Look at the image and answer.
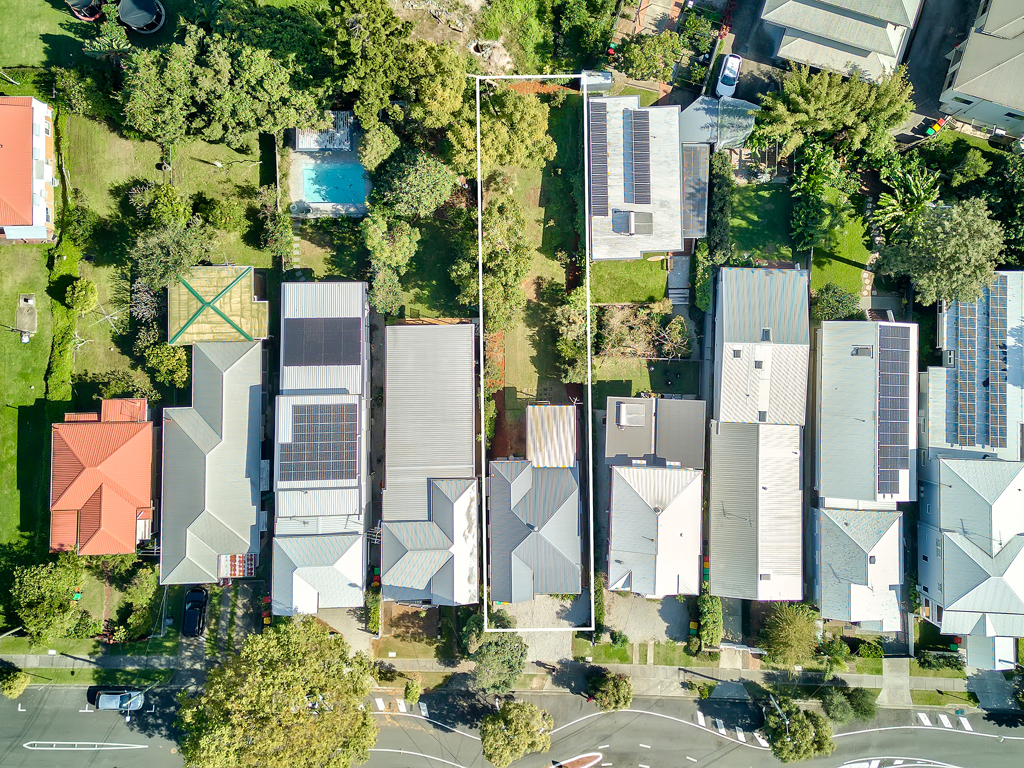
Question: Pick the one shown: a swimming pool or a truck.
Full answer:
The image shows a swimming pool.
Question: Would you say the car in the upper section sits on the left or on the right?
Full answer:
The car in the upper section is on the right side of the image.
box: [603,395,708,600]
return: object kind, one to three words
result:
house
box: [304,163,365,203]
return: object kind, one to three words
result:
swimming pool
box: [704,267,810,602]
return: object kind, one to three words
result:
house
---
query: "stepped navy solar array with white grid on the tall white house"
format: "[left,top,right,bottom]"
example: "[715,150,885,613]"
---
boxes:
[279,404,357,481]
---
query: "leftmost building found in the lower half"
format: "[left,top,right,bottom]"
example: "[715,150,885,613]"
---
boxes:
[49,397,162,556]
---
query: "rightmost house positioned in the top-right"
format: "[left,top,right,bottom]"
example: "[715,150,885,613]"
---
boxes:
[923,0,1024,135]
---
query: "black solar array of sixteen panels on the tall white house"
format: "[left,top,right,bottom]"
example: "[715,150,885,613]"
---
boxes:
[284,317,360,365]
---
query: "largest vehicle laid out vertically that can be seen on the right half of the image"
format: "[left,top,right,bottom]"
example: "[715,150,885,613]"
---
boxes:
[716,51,741,99]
